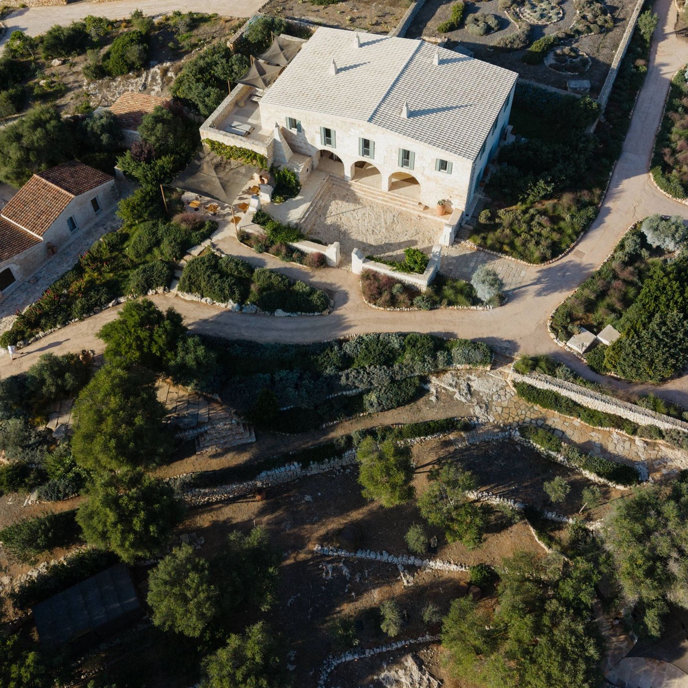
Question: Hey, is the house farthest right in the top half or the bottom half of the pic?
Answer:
top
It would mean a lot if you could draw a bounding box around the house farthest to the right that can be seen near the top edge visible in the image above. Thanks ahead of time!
[258,21,521,218]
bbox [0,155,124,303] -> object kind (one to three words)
house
